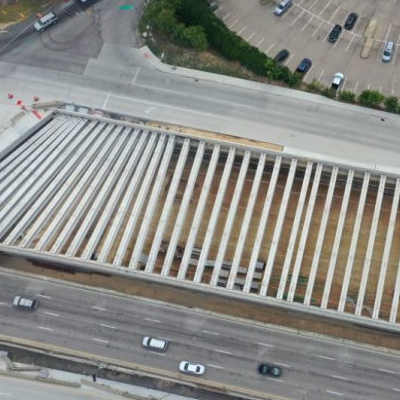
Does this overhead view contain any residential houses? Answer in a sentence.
No, the frame has no residential house in it.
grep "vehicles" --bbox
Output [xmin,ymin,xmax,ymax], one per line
[343,10,358,31]
[328,68,347,94]
[328,23,343,43]
[273,47,292,64]
[36,12,57,30]
[382,40,395,62]
[143,336,170,351]
[295,56,313,77]
[274,0,293,16]
[14,295,38,310]
[180,361,205,375]
[258,363,283,377]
